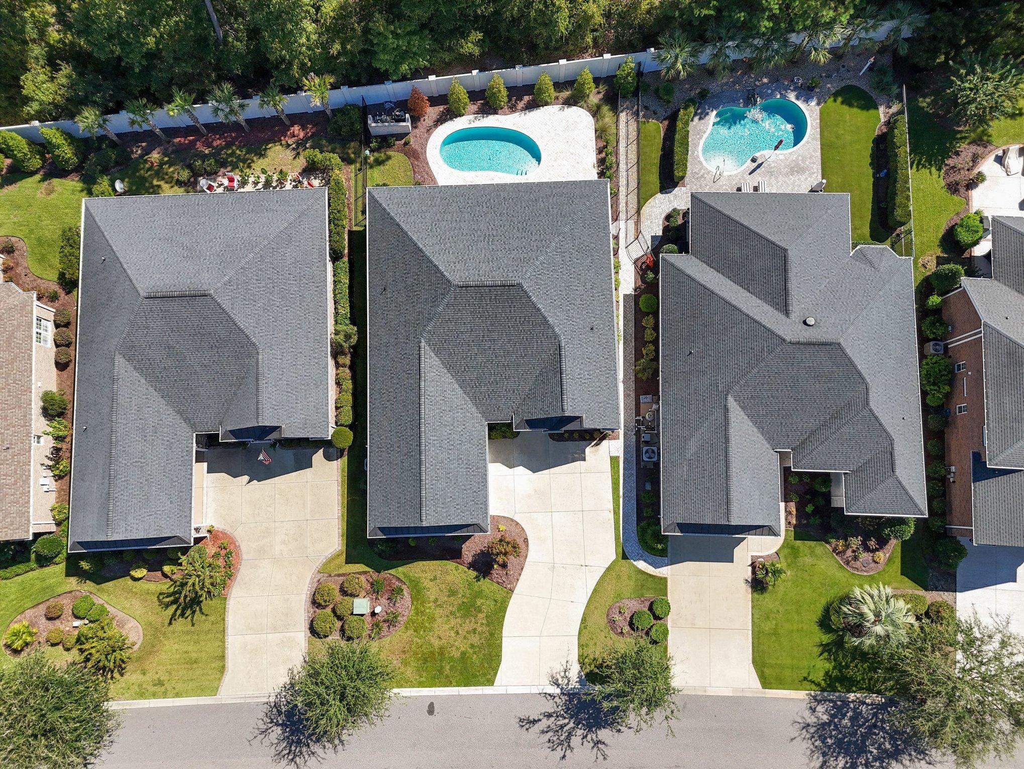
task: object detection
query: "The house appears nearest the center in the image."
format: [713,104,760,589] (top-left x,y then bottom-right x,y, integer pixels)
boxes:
[365,178,623,540]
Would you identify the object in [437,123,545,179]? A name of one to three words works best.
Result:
swimming pool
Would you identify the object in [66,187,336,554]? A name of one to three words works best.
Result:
house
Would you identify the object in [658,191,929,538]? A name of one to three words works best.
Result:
house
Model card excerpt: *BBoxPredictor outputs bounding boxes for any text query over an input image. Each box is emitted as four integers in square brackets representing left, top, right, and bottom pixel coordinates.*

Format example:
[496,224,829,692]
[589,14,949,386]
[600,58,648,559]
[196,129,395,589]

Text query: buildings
[936,214,1024,550]
[658,191,929,538]
[66,187,336,554]
[365,178,623,540]
[0,281,57,540]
